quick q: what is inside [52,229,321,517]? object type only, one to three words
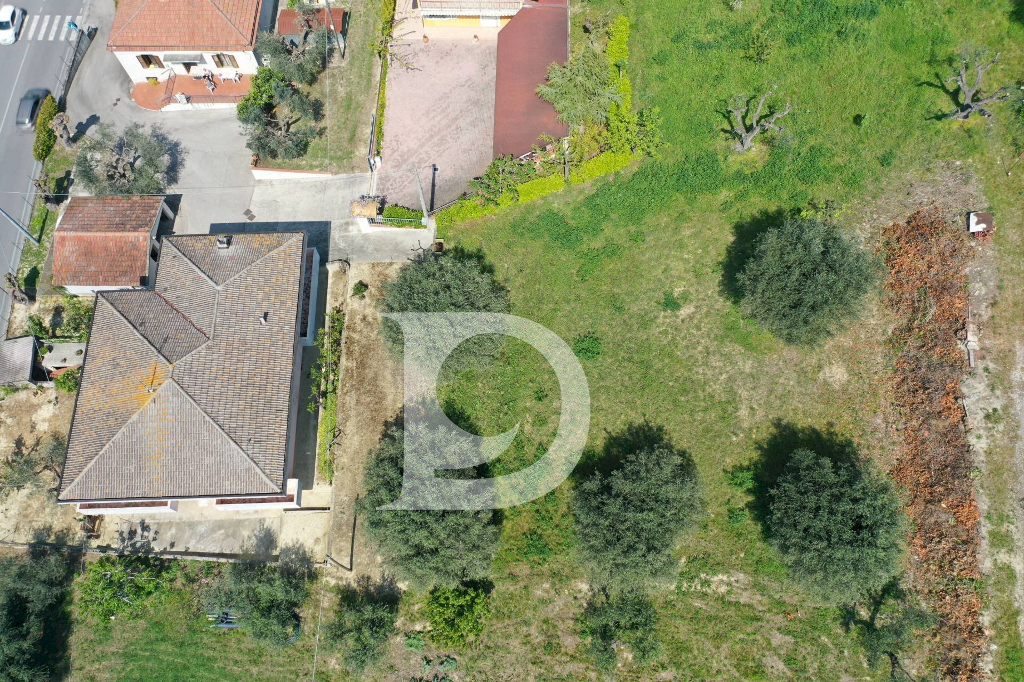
house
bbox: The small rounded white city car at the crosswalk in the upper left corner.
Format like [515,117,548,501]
[0,8,23,42]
